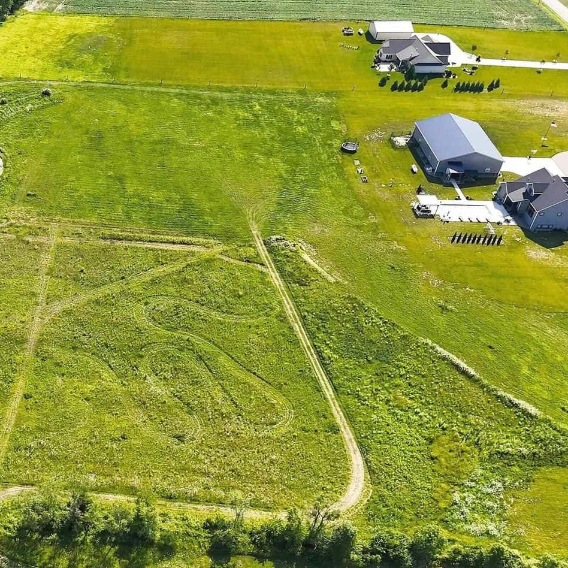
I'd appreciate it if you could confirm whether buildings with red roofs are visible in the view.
No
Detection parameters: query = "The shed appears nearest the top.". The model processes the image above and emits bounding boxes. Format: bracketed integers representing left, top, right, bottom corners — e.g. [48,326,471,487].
[368,22,417,41]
